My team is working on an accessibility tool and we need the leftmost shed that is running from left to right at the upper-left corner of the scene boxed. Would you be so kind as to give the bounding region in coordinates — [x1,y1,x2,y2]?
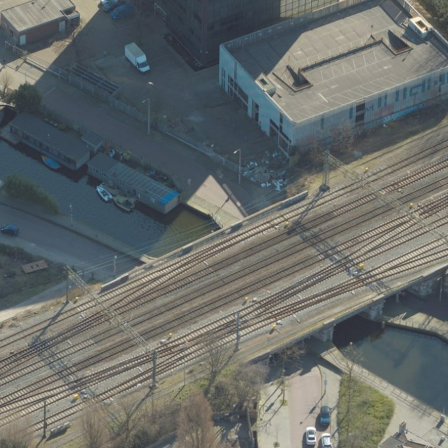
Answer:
[0,0,81,43]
